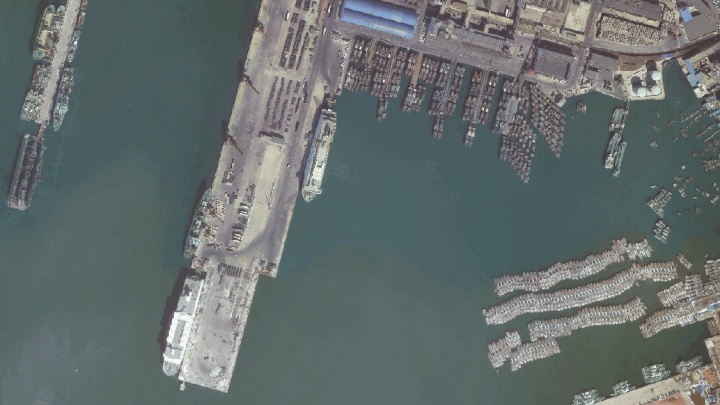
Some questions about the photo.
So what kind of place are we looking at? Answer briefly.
port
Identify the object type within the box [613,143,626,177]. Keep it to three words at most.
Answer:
ship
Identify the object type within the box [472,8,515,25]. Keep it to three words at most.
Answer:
building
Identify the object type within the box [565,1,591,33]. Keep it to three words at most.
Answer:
building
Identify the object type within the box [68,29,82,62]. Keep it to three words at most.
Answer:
ship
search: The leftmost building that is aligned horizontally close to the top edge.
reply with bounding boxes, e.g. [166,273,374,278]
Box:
[339,0,419,38]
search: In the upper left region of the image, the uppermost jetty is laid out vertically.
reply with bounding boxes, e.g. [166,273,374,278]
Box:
[36,0,82,124]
